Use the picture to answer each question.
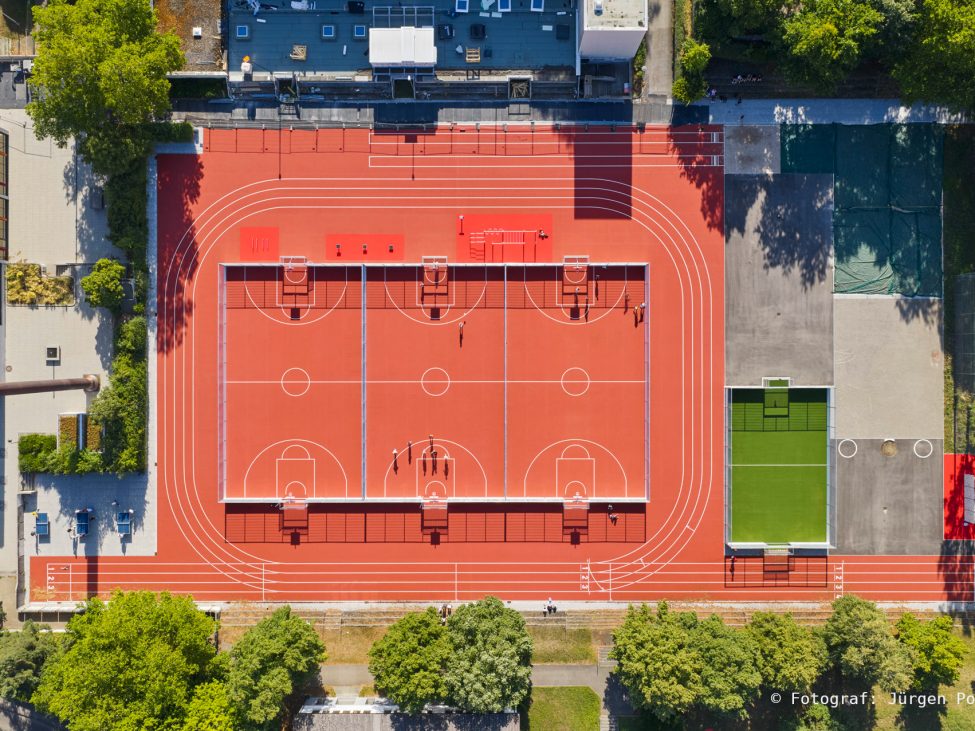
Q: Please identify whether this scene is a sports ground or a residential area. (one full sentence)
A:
This image shows a sports ground.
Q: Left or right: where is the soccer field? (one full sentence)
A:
You can find the soccer field on the right side of the picture.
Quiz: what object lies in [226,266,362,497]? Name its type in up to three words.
basketball court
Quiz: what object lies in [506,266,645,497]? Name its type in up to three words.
basketball court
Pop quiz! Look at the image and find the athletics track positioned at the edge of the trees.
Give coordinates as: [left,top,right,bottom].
[30,124,975,602]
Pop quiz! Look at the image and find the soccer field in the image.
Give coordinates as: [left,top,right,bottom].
[727,379,827,551]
